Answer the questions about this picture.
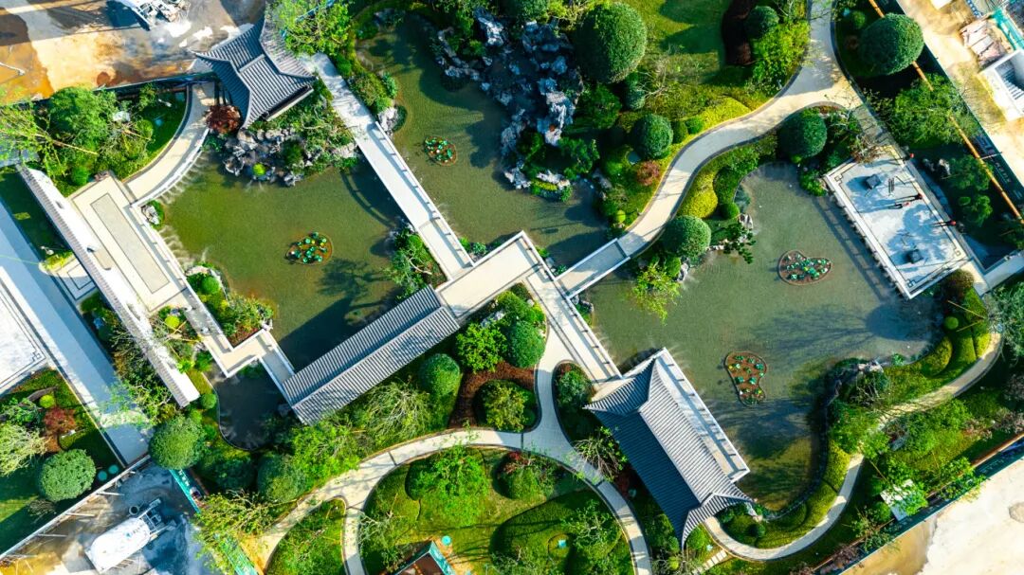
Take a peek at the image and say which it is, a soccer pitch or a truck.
truck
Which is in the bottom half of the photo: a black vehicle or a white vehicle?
white vehicle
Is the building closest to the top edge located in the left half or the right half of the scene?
left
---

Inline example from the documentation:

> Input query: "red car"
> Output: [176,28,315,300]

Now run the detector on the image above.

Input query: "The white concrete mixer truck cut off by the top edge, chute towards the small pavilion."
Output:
[108,0,170,37]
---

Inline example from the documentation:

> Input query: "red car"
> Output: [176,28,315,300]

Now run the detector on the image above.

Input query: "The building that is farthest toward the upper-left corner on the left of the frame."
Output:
[192,1,323,131]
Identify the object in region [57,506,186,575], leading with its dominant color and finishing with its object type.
white truck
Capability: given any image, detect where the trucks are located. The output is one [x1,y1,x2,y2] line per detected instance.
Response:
[57,506,186,575]
[108,0,170,37]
